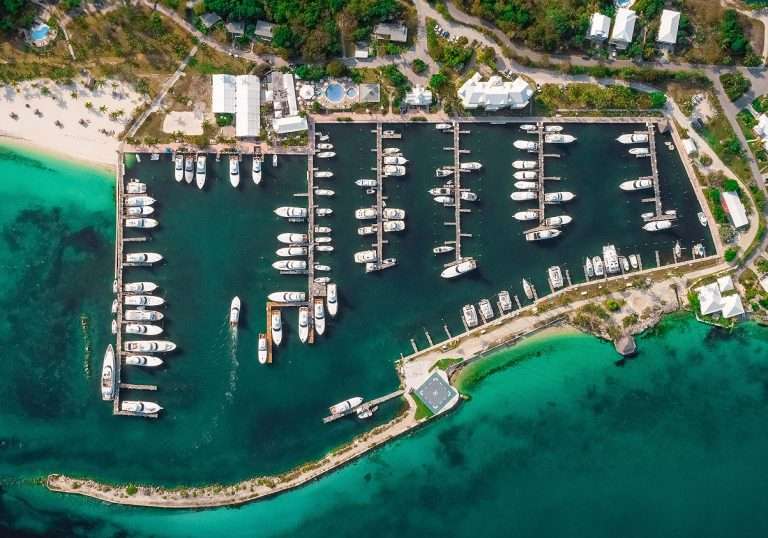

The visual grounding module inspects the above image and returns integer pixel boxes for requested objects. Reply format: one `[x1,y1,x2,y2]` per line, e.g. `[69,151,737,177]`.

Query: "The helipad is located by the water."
[416,372,456,413]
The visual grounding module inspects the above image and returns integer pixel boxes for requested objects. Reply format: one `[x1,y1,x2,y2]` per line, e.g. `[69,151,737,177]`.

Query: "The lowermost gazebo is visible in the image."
[613,335,636,356]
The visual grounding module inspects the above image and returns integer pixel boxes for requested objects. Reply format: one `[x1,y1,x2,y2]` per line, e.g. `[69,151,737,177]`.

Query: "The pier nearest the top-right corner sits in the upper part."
[634,122,676,222]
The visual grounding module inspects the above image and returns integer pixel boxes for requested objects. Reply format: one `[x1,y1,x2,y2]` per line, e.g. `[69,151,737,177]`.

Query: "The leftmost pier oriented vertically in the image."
[113,152,158,418]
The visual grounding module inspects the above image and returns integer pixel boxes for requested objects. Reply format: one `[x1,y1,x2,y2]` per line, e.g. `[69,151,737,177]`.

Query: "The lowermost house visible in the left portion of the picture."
[273,116,308,134]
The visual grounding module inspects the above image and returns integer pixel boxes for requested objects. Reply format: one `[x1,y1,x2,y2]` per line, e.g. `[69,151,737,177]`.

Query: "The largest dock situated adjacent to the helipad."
[323,389,406,422]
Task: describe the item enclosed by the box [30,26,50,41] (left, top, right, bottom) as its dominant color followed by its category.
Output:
blue swimming pool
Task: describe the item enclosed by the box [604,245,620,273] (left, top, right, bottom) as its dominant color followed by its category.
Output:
white ship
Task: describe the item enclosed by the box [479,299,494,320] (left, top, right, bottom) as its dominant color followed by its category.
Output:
white boat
